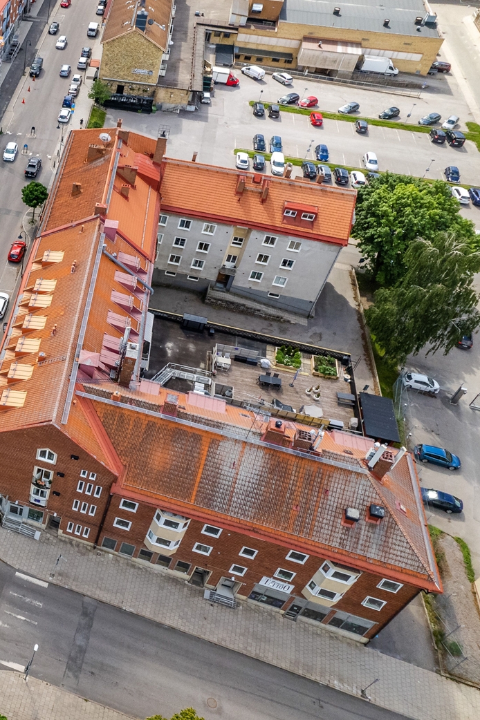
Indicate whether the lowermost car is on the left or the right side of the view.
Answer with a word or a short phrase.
right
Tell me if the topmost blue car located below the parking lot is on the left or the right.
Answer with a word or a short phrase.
right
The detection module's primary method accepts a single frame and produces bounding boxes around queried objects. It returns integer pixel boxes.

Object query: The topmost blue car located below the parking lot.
[409,440,466,474]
